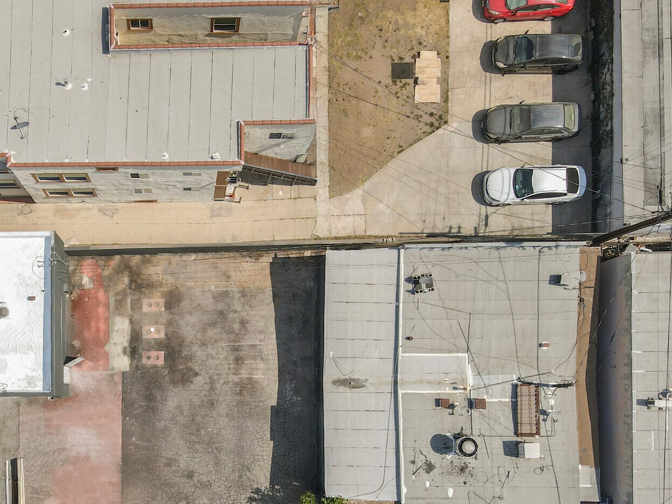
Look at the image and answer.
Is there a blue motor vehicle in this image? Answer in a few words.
No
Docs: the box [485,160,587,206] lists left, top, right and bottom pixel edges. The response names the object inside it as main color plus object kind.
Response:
white car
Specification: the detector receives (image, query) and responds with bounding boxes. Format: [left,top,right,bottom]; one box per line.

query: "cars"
[484,98,582,144]
[484,0,576,24]
[485,160,587,206]
[495,28,585,76]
